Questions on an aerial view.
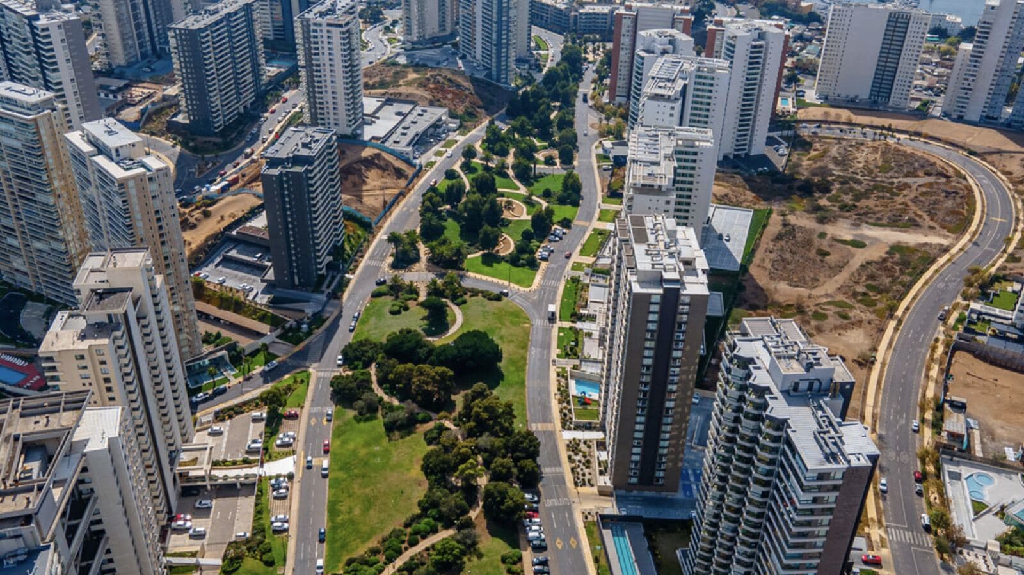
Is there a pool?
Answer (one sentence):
Yes, a pool is visible in the scene.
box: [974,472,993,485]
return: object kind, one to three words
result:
swimming pool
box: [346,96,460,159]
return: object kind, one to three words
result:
building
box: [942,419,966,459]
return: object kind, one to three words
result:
shed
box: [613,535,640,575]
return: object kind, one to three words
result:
swimming pool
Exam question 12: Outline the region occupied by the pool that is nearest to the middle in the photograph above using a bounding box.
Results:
[573,378,596,396]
